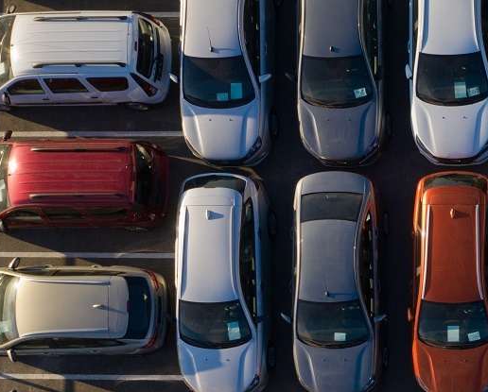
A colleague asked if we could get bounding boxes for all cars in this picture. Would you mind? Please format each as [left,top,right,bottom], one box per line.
[0,125,175,236]
[280,0,392,170]
[163,0,282,169]
[398,172,488,392]
[0,254,173,364]
[0,0,177,115]
[160,172,279,392]
[274,169,386,392]
[397,0,488,168]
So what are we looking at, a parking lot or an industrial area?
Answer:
parking lot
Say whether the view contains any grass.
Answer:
No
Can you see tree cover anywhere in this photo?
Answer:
No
